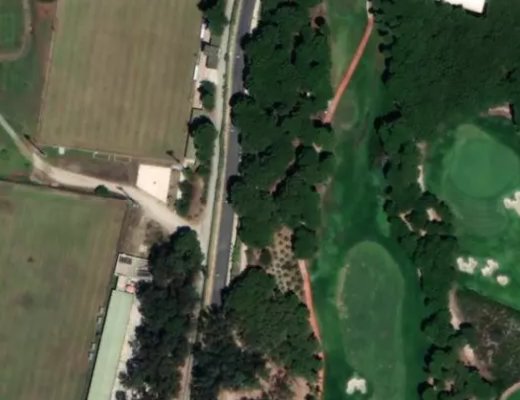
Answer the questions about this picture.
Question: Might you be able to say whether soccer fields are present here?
Yes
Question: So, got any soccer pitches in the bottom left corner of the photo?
Yes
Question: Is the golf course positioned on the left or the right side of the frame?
right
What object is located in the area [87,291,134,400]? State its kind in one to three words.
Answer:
building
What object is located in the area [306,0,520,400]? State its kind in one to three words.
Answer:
golf course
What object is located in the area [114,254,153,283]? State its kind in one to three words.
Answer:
building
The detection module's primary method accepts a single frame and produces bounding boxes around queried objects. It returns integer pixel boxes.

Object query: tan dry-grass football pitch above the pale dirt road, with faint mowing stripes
[38,0,202,160]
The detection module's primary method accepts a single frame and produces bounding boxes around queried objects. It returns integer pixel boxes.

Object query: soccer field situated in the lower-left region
[0,183,126,400]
